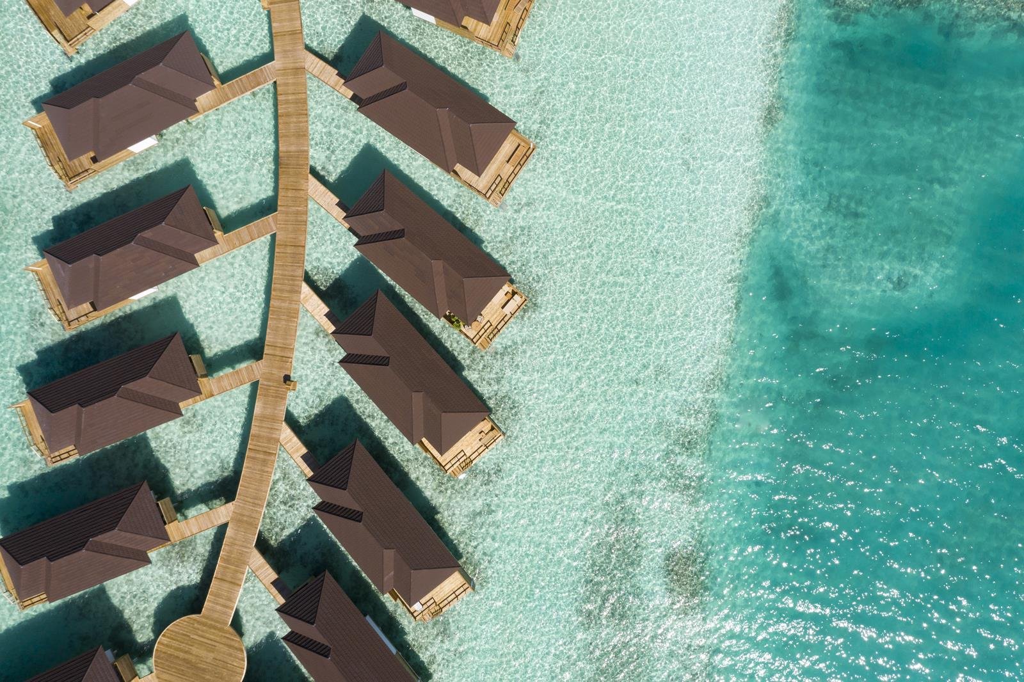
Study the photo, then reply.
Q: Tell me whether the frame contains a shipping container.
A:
No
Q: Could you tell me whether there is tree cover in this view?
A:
No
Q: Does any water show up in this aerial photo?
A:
Yes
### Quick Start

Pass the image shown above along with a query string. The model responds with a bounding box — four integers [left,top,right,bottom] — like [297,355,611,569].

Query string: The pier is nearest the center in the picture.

[301,279,344,337]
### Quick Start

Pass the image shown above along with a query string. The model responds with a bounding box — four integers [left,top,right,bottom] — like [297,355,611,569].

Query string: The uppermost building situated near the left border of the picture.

[26,0,141,62]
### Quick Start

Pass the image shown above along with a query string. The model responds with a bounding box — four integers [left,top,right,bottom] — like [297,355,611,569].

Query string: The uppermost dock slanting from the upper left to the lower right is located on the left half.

[307,51,353,98]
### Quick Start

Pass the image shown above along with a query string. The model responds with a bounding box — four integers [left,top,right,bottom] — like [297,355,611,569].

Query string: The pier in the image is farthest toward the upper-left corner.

[223,62,277,103]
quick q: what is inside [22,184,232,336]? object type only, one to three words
house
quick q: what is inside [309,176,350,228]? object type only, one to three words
pier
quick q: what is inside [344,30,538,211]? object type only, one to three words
house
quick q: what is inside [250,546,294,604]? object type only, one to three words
pier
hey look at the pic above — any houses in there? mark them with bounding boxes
[276,570,429,682]
[343,169,530,354]
[5,332,217,471]
[344,30,538,211]
[0,480,186,610]
[22,184,232,336]
[306,439,477,623]
[370,0,536,66]
[331,289,507,478]
[26,0,141,62]
[25,641,140,682]
[22,30,232,195]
